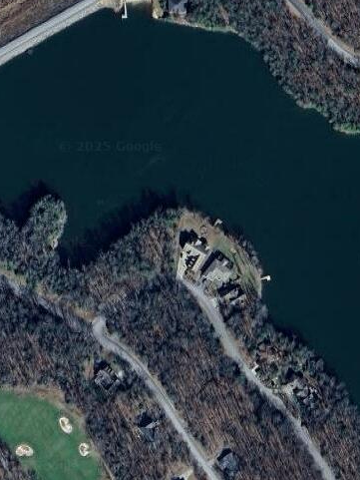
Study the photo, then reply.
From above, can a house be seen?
Yes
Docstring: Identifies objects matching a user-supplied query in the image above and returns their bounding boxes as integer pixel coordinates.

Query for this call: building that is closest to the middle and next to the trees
[181,231,207,263]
